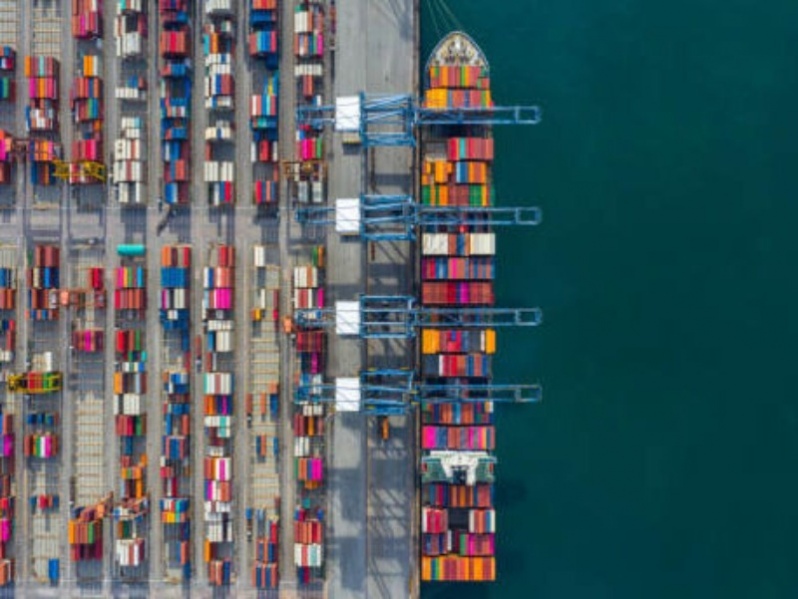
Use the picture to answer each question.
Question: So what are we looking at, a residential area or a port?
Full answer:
This looks like a port.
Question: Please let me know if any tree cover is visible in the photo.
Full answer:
No, no tree cover is visible.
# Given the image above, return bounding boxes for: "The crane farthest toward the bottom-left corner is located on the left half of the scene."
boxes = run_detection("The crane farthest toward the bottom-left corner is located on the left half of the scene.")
[94,493,149,520]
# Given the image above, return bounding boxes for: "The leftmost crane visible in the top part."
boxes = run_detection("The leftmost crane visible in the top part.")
[6,136,62,161]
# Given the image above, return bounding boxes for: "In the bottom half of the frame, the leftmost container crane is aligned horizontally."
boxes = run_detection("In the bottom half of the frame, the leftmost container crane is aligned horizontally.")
[6,369,62,392]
